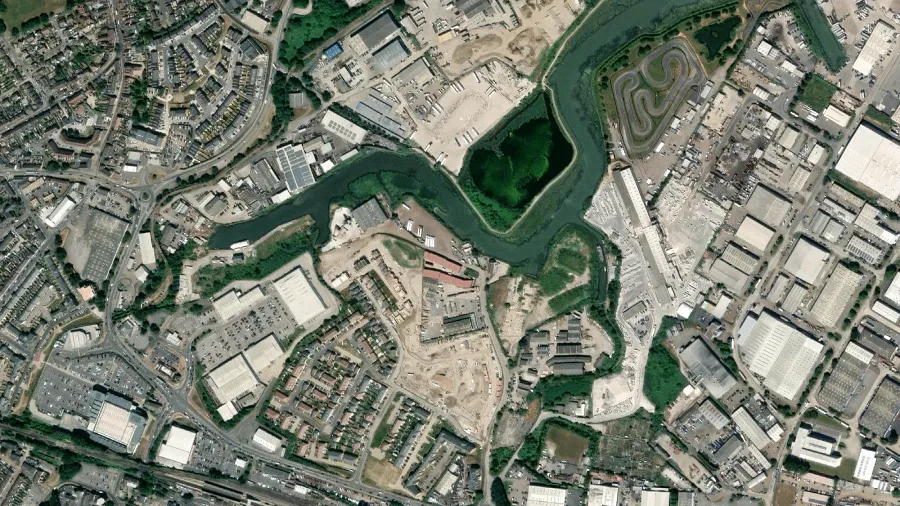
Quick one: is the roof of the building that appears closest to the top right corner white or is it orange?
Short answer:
white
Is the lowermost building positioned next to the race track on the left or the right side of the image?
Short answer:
right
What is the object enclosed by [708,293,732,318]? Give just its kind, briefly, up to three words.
shed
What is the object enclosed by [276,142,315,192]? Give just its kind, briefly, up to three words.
building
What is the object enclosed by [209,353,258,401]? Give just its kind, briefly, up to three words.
building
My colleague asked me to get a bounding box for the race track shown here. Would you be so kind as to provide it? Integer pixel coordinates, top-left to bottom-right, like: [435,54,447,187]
[612,38,705,153]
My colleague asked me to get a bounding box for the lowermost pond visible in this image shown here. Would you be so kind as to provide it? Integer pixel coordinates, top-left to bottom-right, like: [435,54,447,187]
[468,100,572,207]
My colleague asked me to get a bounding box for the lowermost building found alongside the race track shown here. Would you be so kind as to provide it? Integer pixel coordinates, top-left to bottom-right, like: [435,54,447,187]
[613,168,676,307]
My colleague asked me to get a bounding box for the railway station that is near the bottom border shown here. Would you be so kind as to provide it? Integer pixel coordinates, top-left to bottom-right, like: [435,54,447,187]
[163,472,261,506]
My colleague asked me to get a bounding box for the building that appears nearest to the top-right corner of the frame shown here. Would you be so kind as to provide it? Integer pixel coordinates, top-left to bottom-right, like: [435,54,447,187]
[853,20,896,76]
